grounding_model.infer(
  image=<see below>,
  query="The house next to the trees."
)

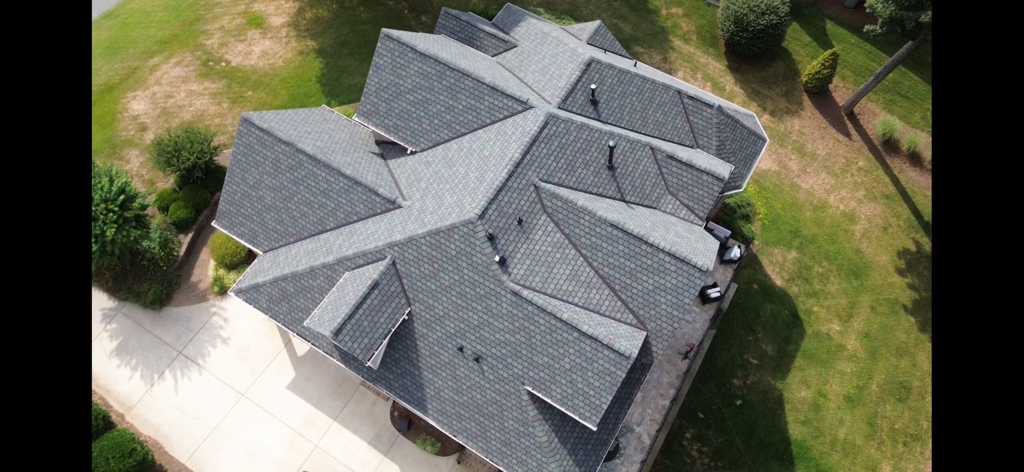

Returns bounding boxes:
[210,2,770,472]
